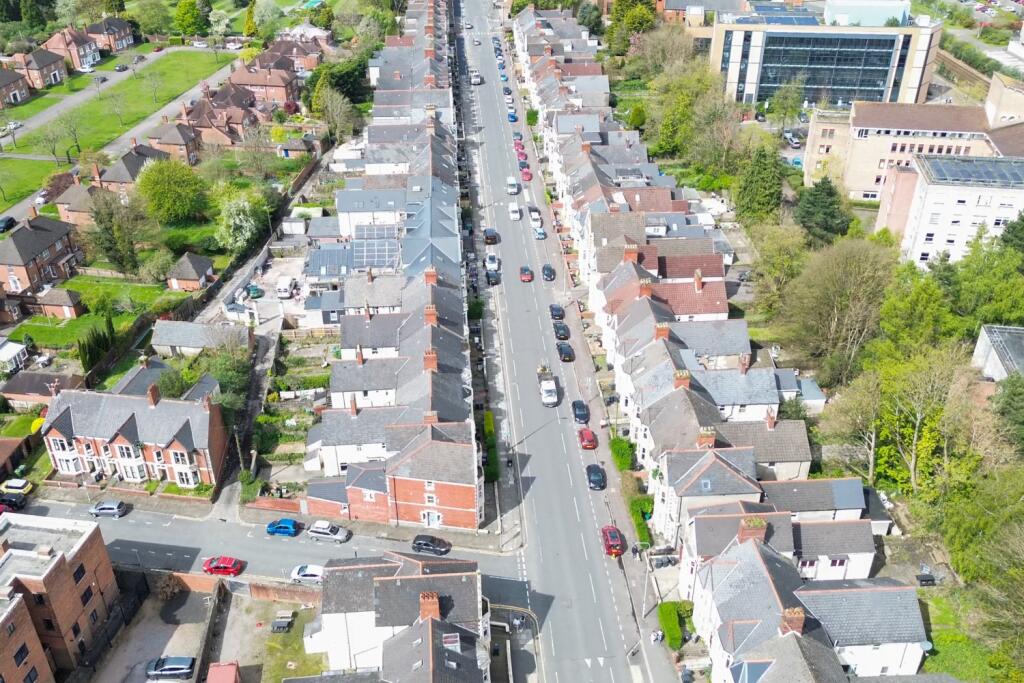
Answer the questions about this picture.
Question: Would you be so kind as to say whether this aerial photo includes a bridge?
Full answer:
No, there's no bridge here.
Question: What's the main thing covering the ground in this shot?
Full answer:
For the most part, this view shows buildings.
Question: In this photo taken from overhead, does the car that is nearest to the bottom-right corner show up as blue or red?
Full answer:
The car that is nearest to the bottom-right corner is red.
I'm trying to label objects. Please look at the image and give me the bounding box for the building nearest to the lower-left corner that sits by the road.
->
[0,508,118,683]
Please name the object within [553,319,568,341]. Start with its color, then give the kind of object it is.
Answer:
gray car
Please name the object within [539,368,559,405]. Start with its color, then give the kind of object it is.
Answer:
white vehicle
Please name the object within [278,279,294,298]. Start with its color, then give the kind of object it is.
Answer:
white vehicle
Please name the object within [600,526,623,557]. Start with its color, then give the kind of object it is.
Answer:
red car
